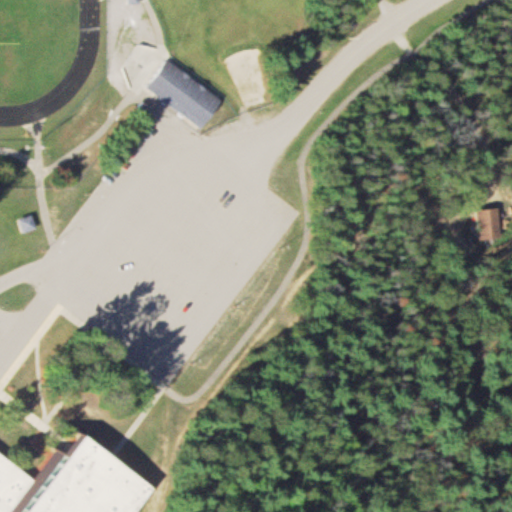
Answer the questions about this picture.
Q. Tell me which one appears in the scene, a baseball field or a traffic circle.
baseball field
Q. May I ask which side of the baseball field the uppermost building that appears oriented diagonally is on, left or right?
to the left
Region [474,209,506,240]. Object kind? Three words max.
house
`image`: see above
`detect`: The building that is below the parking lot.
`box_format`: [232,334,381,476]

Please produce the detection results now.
[0,434,156,512]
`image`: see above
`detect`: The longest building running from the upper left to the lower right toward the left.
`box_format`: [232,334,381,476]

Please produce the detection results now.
[148,61,221,130]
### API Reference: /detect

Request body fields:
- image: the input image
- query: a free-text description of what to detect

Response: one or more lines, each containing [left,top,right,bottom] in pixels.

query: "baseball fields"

[224,48,266,108]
